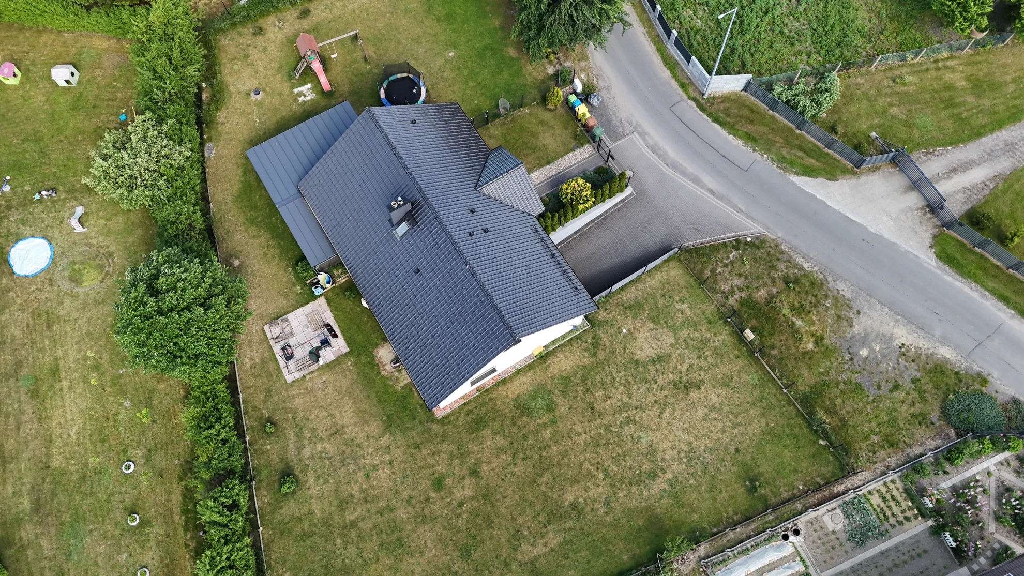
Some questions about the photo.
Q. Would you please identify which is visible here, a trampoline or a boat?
trampoline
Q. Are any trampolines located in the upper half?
Yes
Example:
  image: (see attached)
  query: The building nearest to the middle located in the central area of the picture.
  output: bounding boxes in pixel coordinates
[296,101,600,419]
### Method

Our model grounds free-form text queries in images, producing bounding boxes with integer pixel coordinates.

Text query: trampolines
[376,59,426,105]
